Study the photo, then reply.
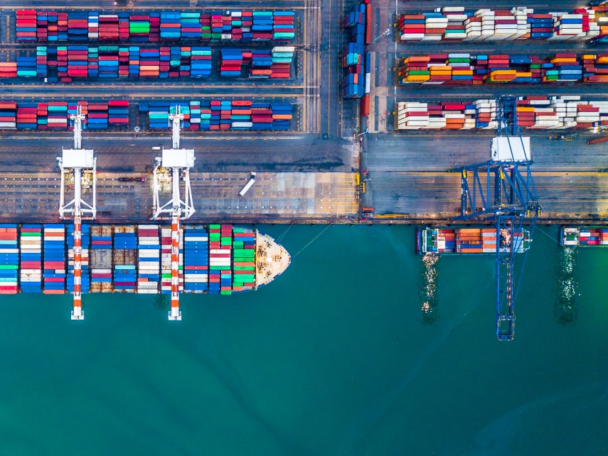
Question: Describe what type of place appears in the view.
port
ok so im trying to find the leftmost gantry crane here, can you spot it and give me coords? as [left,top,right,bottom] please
[56,102,102,320]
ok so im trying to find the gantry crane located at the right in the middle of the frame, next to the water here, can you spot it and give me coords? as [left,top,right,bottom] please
[447,94,542,341]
